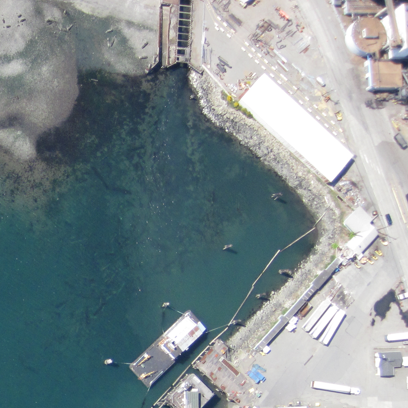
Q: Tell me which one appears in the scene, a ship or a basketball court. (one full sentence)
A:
Of the two, only a ship appears.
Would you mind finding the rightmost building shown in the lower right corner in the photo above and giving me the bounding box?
[371,352,408,376]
